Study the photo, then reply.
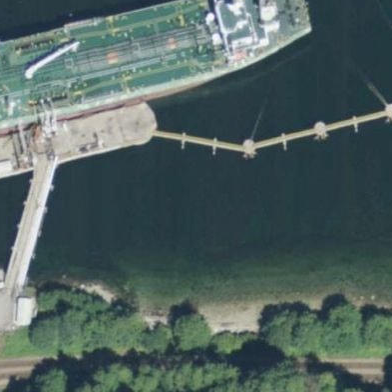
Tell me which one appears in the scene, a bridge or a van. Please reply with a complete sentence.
Looking from above, you can make out a bridge.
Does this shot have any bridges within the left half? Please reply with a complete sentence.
Yes, looking within the left half, one can make out a bridge.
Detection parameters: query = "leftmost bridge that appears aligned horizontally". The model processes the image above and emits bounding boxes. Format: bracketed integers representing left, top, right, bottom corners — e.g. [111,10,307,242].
[156,129,244,154]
